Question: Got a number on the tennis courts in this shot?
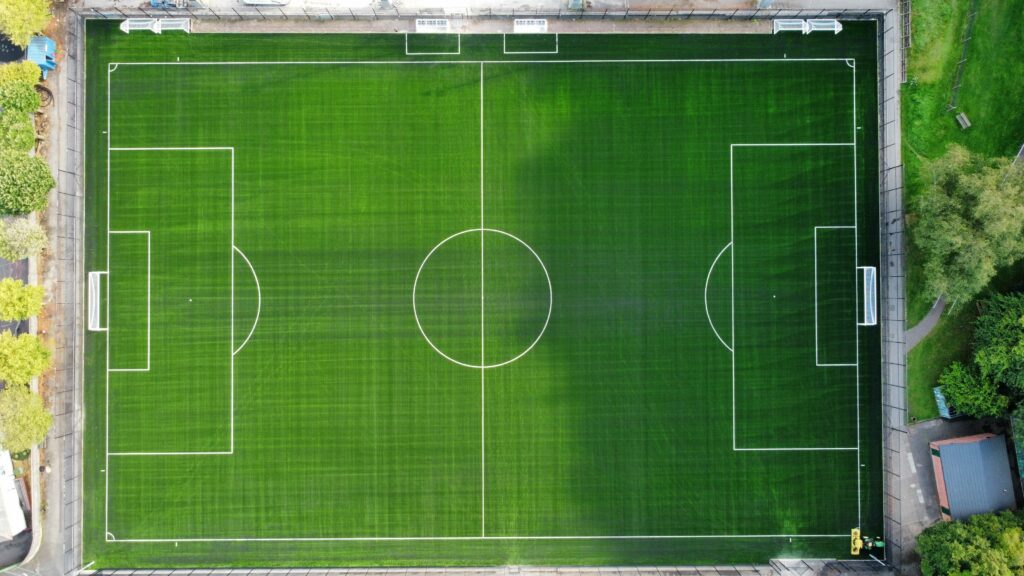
none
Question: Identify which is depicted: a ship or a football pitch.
football pitch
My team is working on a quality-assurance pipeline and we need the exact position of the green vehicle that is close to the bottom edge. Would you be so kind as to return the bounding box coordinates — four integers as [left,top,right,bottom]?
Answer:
[864,537,887,553]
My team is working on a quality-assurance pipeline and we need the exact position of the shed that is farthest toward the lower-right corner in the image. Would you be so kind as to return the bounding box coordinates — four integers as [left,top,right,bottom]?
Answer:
[930,433,1016,524]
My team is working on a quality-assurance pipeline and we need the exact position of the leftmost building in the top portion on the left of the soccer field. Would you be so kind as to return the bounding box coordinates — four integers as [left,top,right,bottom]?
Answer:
[24,37,59,82]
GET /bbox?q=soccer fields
[83,19,885,570]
